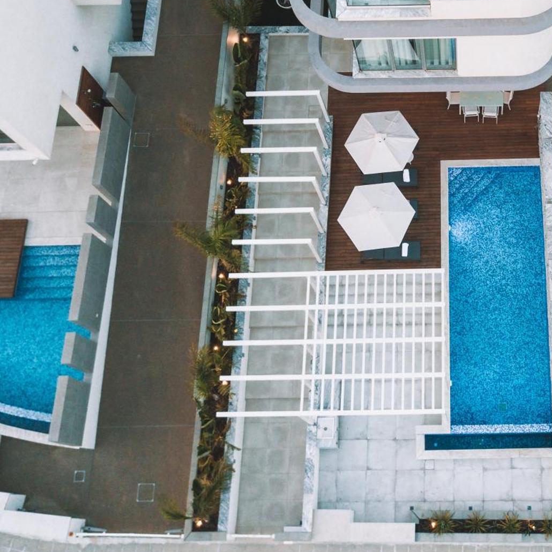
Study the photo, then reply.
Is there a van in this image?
No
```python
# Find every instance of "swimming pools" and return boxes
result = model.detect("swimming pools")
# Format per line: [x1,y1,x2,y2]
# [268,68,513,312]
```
[416,159,552,459]
[0,235,106,447]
